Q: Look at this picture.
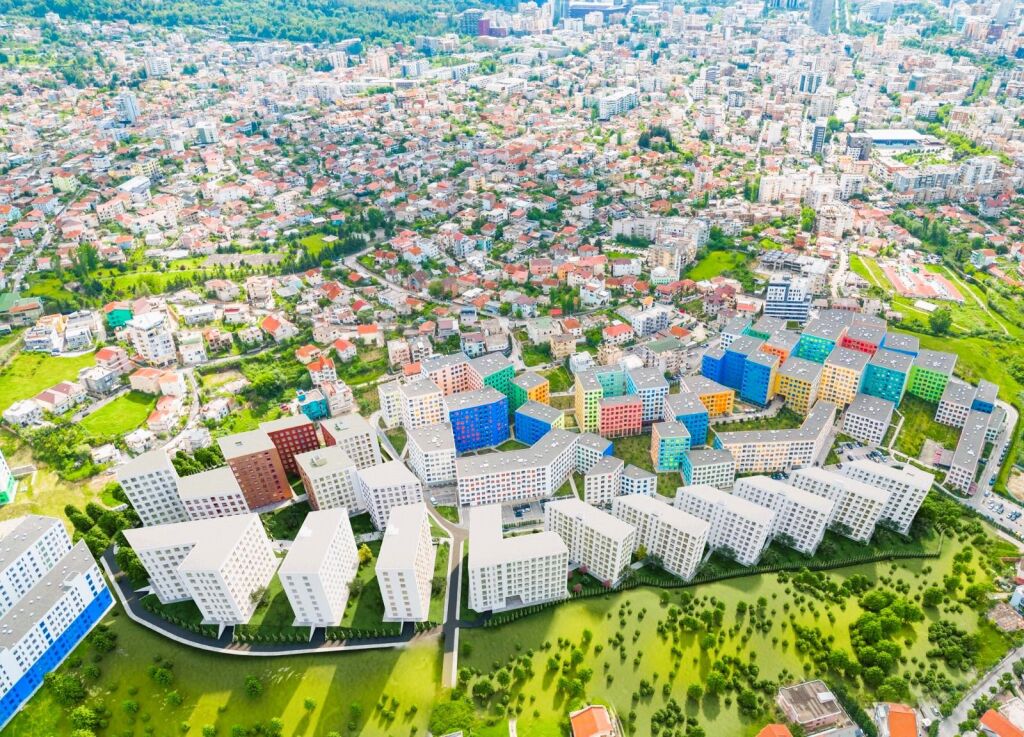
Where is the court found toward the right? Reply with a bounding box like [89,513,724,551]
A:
[917,440,954,466]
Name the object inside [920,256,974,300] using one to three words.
shed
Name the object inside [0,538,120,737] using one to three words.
building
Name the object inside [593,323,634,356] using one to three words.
house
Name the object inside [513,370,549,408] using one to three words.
building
